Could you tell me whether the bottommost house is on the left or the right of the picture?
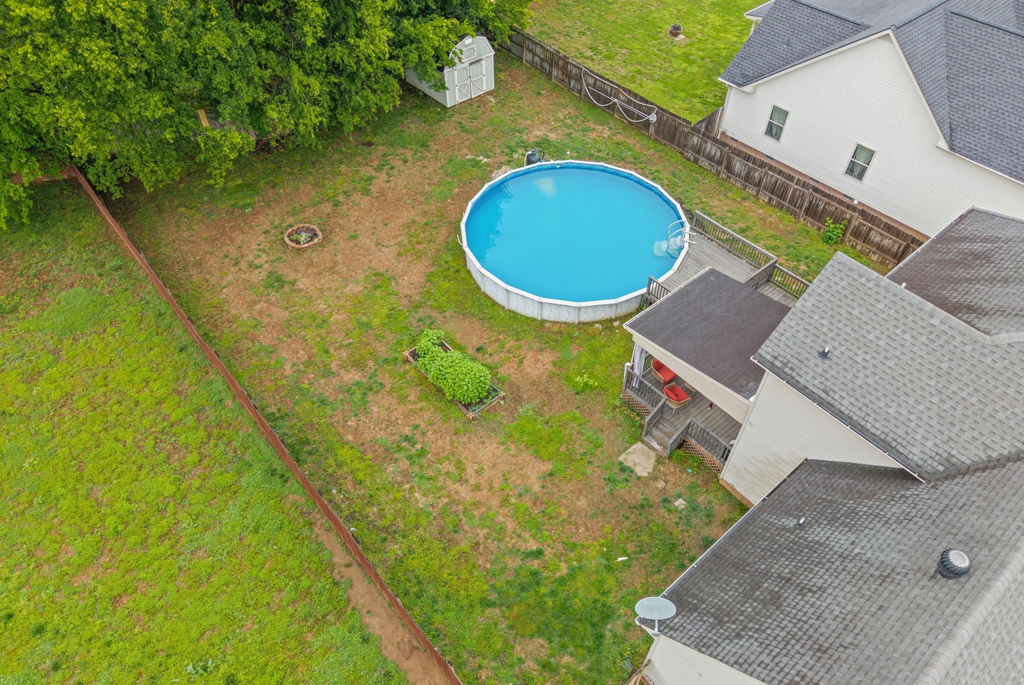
right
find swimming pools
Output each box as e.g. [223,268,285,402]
[460,160,691,323]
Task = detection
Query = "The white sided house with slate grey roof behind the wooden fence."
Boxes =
[714,0,1024,242]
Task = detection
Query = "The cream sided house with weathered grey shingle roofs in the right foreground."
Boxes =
[628,206,1024,685]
